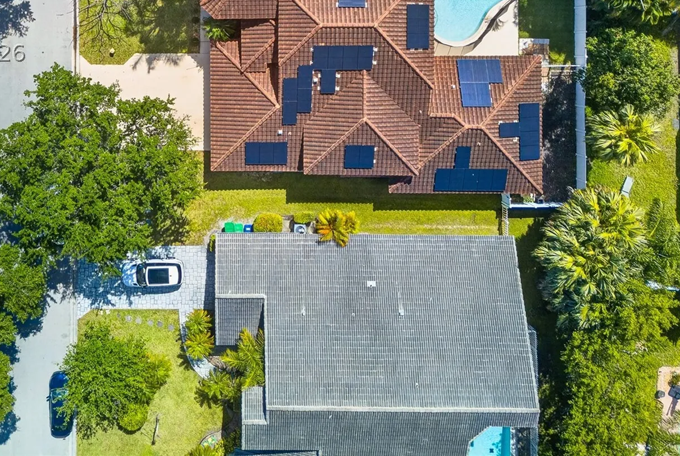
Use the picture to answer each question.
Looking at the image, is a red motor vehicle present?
No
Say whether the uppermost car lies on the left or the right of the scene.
left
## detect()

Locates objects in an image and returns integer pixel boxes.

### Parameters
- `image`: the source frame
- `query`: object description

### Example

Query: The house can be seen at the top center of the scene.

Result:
[200,0,545,196]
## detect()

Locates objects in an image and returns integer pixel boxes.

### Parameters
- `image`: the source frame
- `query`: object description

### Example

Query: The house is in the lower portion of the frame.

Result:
[213,232,542,456]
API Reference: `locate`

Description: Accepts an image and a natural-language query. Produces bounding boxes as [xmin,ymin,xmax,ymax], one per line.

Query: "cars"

[45,370,78,440]
[121,258,185,293]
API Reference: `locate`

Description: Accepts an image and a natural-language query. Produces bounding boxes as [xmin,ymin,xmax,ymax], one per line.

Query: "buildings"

[200,0,545,196]
[213,232,542,456]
